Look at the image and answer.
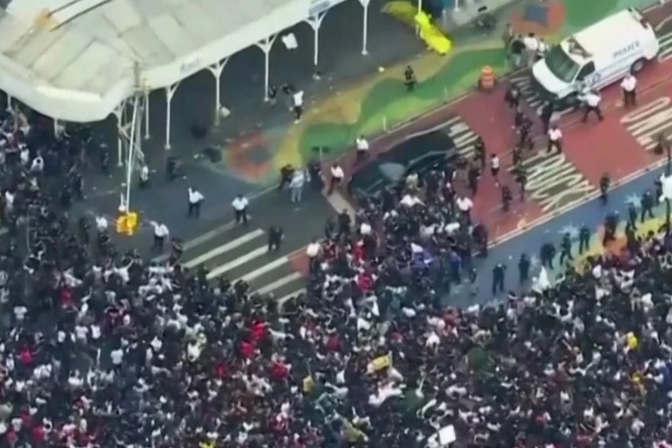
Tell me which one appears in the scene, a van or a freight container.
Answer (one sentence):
The one in the frame is a van.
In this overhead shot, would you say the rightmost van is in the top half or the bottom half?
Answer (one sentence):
The top half of the photo is where the rightmost van is.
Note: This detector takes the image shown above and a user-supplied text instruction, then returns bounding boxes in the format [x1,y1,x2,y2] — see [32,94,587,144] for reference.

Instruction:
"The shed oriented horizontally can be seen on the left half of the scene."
[0,0,373,177]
